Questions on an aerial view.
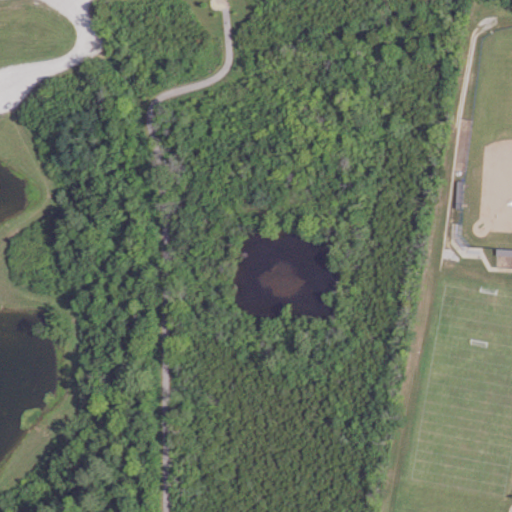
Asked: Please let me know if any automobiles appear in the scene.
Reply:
No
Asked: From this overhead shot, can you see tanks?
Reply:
No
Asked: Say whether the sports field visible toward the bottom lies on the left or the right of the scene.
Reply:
right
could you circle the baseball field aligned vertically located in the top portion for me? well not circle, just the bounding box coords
[462,27,512,246]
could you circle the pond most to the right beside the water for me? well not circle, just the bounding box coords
[232,231,338,320]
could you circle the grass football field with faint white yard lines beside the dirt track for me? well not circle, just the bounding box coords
[406,278,512,502]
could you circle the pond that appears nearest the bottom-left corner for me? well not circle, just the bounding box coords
[0,310,56,474]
